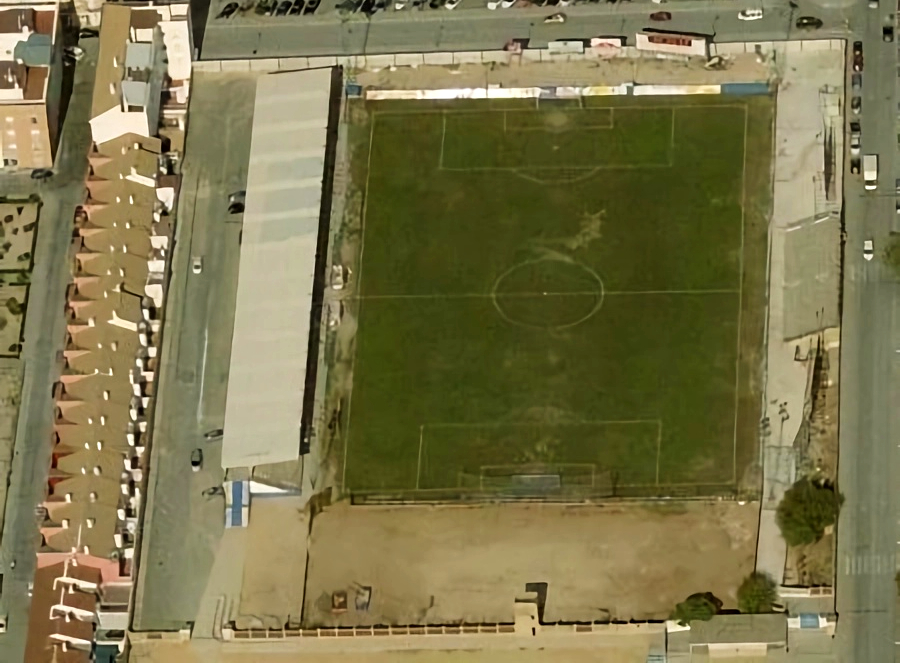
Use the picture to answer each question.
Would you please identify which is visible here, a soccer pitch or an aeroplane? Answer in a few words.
soccer pitch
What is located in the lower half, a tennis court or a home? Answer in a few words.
home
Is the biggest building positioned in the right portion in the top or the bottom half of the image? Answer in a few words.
bottom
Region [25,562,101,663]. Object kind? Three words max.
house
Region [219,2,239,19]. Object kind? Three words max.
car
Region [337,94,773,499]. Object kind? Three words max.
soccer field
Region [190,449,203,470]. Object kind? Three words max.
vehicle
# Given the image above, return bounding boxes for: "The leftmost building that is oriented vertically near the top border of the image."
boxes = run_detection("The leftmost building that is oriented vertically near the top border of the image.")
[0,7,64,167]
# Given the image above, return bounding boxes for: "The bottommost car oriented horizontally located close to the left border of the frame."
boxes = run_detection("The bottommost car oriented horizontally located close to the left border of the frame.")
[27,167,54,179]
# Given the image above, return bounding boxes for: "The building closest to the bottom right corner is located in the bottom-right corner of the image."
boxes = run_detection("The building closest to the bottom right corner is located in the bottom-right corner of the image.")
[690,612,788,658]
